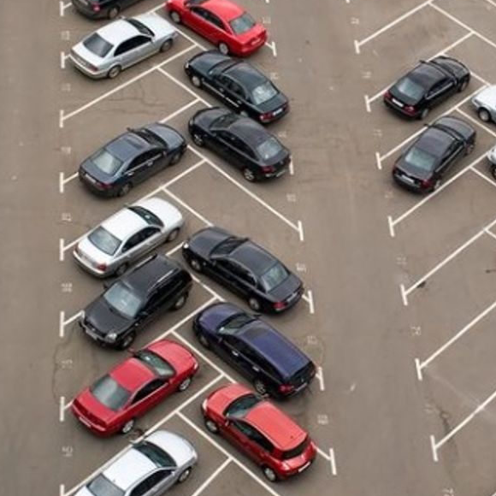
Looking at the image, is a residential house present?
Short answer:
No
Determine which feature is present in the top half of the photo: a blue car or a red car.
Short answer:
red car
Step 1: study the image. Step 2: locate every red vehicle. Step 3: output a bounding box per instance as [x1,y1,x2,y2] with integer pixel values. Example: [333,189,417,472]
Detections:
[167,0,267,59]
[76,343,200,439]
[200,384,320,484]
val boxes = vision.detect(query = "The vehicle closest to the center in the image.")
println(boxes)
[185,227,305,319]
